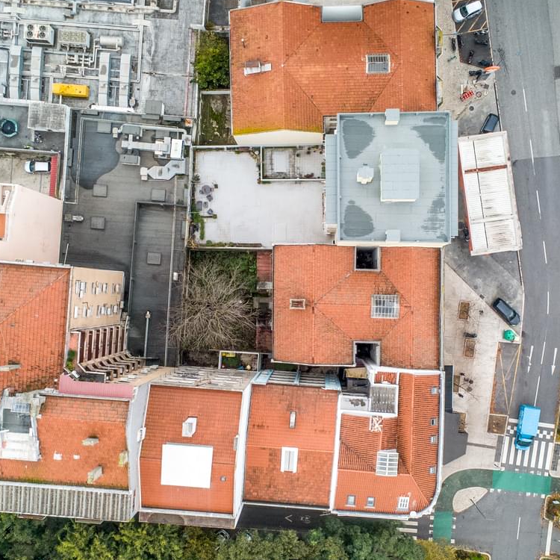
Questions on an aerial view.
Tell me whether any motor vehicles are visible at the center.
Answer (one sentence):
No, the scene shows no motor vehicle at the center.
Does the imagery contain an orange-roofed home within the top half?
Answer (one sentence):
Yes, the scene does show an orange-roofed home within the top half.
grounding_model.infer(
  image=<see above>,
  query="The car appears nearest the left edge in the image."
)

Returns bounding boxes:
[21,158,51,174]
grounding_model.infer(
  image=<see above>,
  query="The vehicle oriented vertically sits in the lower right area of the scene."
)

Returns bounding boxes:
[518,405,542,450]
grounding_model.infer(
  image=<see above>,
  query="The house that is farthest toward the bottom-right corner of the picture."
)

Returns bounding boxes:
[335,363,468,518]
